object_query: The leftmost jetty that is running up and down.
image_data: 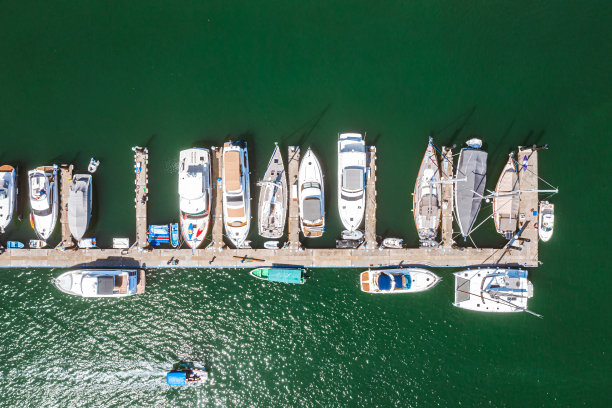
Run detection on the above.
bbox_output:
[54,166,80,249]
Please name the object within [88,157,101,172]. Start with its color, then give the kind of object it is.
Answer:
white boat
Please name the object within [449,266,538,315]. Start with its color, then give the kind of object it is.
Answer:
white boat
